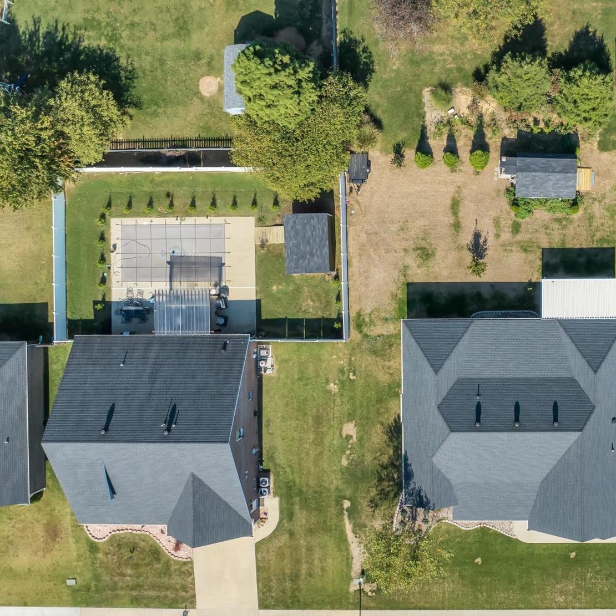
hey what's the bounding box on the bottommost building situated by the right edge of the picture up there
[401,317,616,543]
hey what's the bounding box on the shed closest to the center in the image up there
[283,212,336,274]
